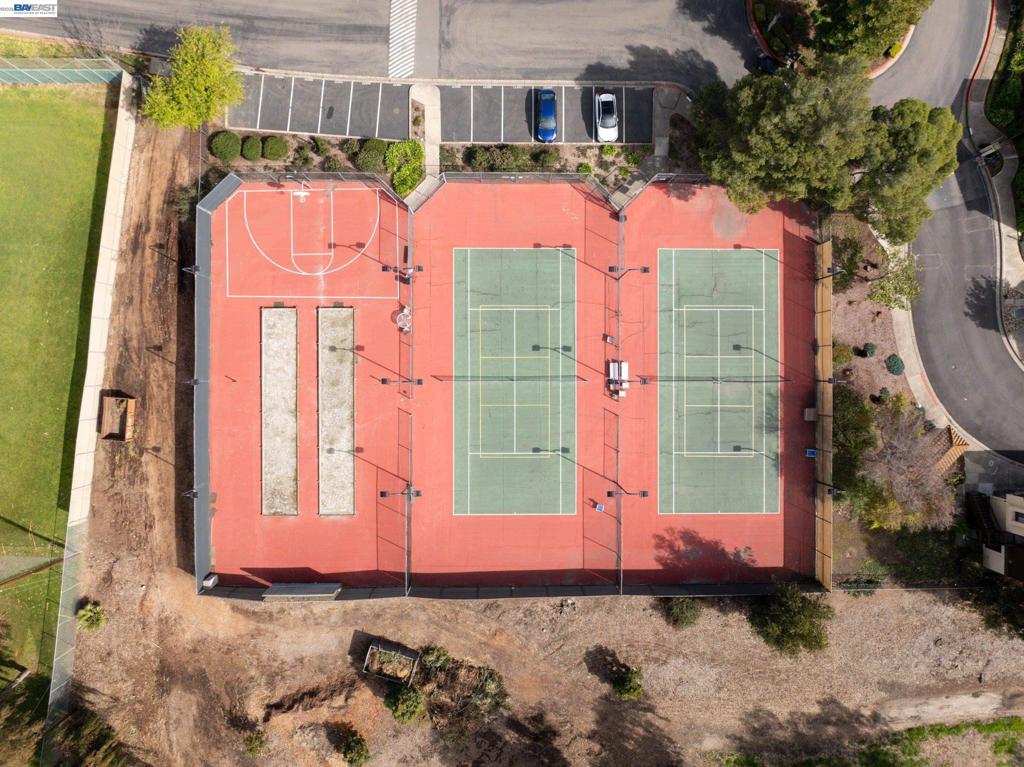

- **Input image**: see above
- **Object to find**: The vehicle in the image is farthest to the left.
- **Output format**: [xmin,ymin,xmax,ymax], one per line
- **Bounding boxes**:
[535,88,559,141]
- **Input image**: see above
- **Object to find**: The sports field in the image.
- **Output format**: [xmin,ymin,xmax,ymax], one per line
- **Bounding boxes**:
[0,83,137,767]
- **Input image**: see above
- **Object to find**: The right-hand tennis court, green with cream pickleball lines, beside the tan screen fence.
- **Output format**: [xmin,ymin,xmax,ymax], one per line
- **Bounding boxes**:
[617,183,816,586]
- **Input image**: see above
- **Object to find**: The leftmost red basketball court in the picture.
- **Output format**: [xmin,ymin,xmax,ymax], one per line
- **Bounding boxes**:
[211,182,411,589]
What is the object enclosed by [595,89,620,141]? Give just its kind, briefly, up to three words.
car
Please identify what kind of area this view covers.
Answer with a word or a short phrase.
sports ground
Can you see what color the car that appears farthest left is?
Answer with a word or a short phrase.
blue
